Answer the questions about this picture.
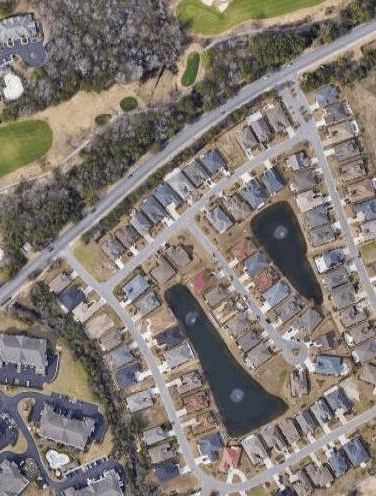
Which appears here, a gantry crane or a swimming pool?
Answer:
swimming pool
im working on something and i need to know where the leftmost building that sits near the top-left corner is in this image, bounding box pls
[0,14,38,43]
